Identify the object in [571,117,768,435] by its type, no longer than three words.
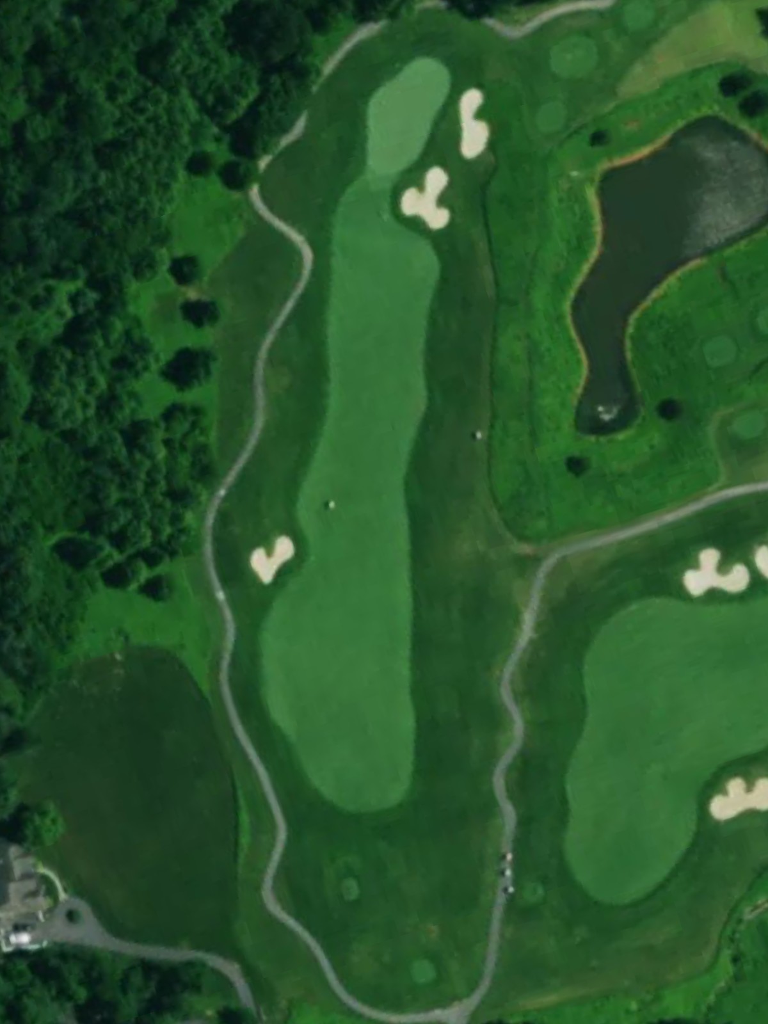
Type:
pond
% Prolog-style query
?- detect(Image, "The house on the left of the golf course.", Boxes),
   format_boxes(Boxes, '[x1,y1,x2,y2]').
[0,841,41,909]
